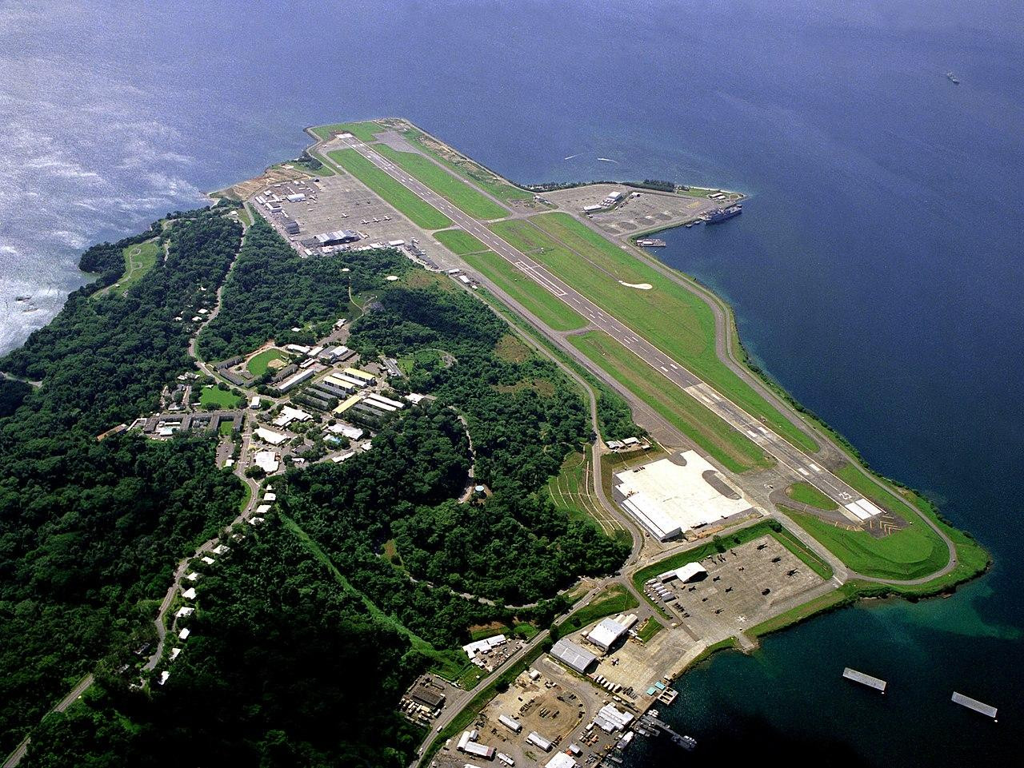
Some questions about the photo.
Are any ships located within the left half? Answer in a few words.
No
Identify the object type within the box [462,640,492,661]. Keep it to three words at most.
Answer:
building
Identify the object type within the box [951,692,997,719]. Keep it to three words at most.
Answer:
ship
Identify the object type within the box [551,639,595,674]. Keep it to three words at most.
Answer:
hangar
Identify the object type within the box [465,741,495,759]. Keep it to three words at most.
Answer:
shed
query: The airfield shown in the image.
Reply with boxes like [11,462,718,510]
[248,121,985,768]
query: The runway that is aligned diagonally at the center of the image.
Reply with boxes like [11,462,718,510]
[334,131,903,535]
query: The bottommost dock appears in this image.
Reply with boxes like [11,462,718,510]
[636,714,697,752]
